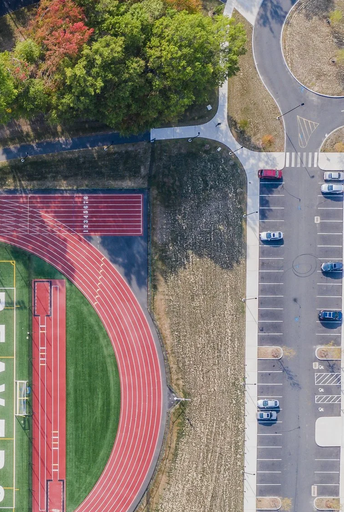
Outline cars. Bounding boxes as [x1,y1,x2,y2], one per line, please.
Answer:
[324,170,344,180]
[321,310,344,320]
[261,230,284,240]
[257,411,280,420]
[258,399,281,409]
[260,167,284,178]
[323,182,344,192]
[322,261,344,271]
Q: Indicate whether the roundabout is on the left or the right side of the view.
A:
right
